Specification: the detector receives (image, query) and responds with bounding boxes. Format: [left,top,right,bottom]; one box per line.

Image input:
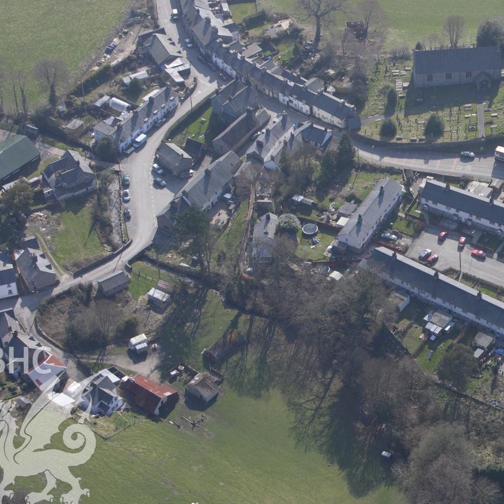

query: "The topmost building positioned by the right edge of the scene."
[413,46,502,86]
